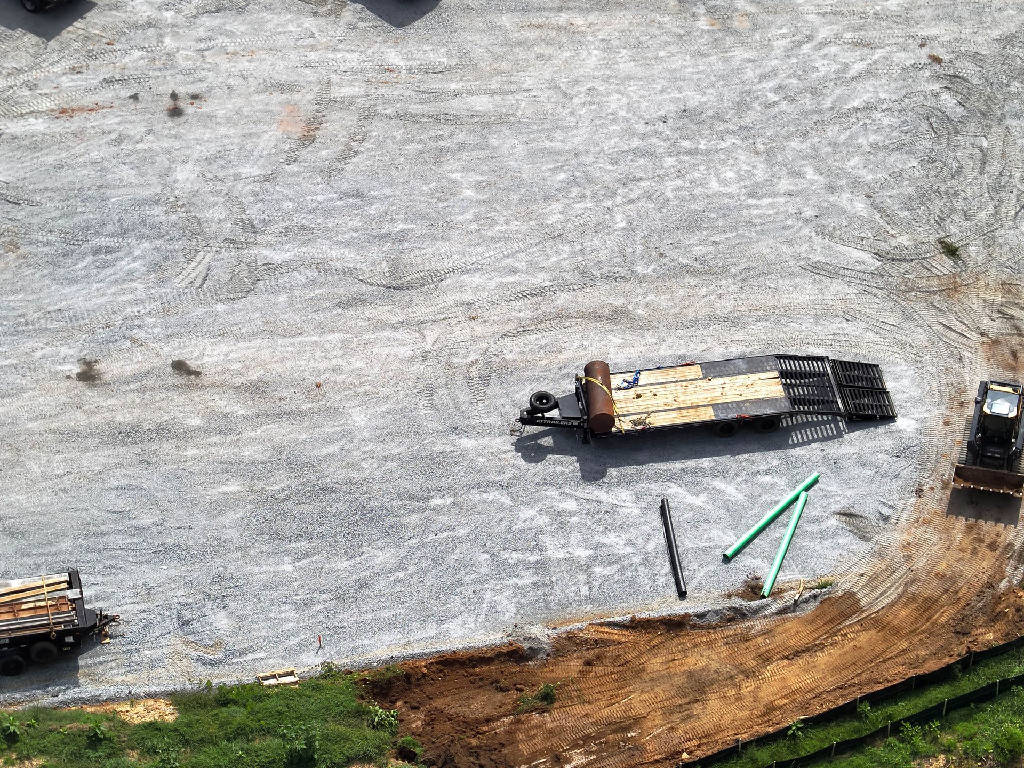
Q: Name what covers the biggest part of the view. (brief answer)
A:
paved ground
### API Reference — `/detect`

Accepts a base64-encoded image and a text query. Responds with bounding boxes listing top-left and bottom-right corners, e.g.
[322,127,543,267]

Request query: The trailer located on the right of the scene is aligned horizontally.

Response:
[508,355,899,448]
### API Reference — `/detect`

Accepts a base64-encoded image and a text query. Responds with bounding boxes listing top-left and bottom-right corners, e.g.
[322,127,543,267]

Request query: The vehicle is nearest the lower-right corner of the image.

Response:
[953,379,1024,499]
